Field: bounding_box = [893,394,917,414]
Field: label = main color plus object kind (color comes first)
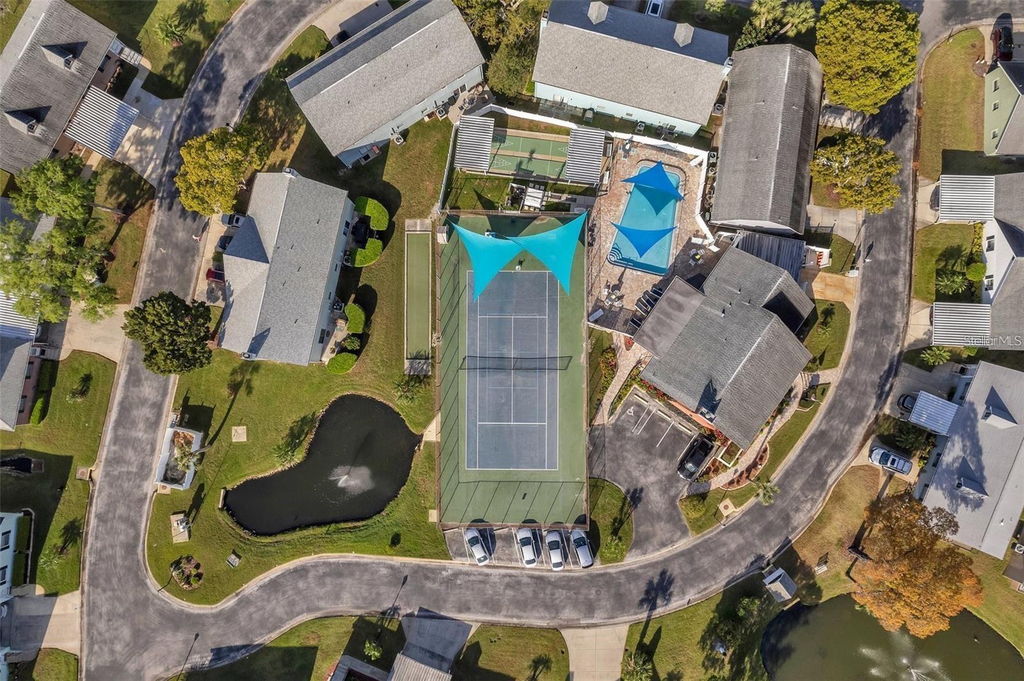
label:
black car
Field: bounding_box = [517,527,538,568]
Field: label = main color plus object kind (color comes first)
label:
white car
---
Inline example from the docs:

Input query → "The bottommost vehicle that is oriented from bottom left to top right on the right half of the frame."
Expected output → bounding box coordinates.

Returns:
[677,432,717,482]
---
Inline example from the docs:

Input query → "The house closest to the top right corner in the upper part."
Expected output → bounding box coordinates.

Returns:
[979,61,1024,159]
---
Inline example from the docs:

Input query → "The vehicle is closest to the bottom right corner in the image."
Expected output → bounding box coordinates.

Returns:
[867,448,914,474]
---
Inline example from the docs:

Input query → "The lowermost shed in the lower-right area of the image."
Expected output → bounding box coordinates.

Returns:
[769,574,800,606]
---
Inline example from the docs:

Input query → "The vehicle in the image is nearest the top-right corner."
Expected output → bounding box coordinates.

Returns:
[991,25,1016,62]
